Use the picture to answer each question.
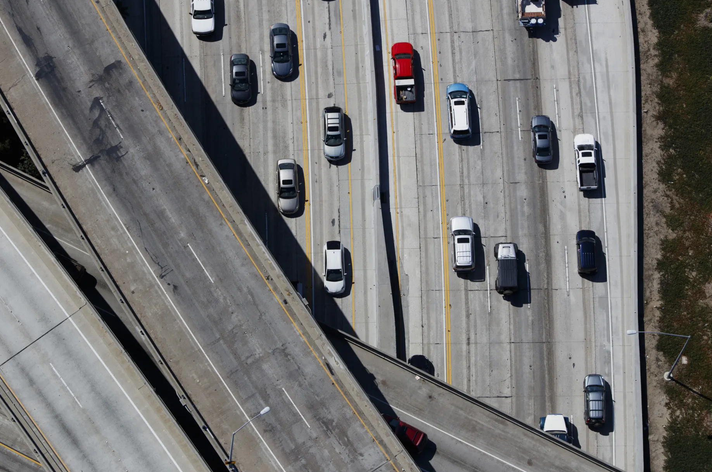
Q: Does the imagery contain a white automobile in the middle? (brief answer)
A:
Yes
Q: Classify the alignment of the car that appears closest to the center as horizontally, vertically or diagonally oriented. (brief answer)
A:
vertically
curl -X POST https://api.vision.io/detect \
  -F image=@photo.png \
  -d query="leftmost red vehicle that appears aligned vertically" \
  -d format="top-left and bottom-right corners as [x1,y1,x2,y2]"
[390,42,418,106]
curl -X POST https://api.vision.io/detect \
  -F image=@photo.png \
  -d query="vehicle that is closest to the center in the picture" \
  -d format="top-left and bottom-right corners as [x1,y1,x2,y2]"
[322,242,348,295]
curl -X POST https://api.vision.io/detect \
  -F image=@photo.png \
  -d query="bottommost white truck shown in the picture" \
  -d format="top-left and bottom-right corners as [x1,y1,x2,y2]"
[541,413,573,444]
